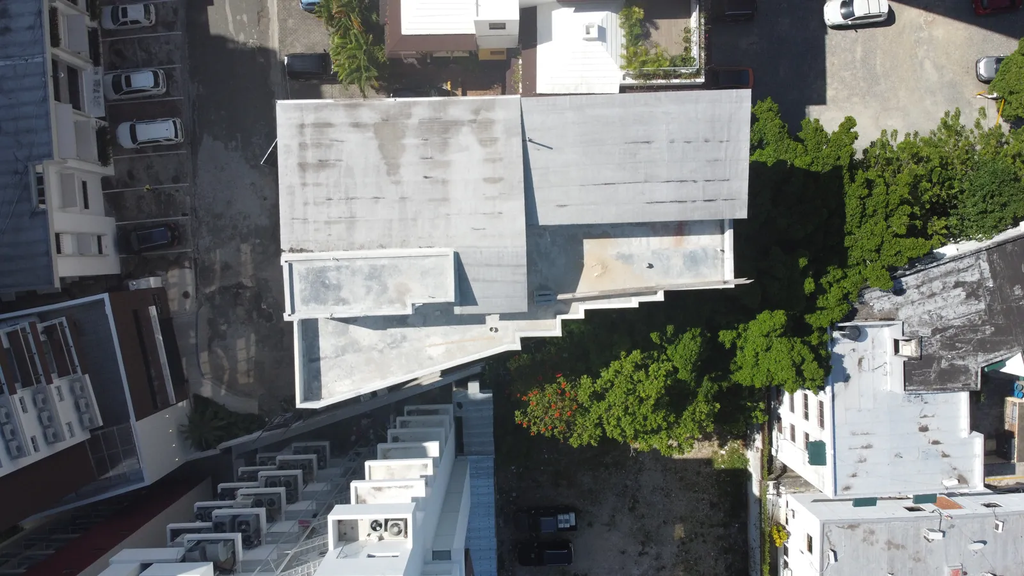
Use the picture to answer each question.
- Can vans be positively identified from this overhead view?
Yes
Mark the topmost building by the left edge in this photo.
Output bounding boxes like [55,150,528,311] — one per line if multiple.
[0,0,125,294]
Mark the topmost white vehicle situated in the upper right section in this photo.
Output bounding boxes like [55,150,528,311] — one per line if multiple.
[819,0,888,30]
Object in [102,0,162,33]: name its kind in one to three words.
car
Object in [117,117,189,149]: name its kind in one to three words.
car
